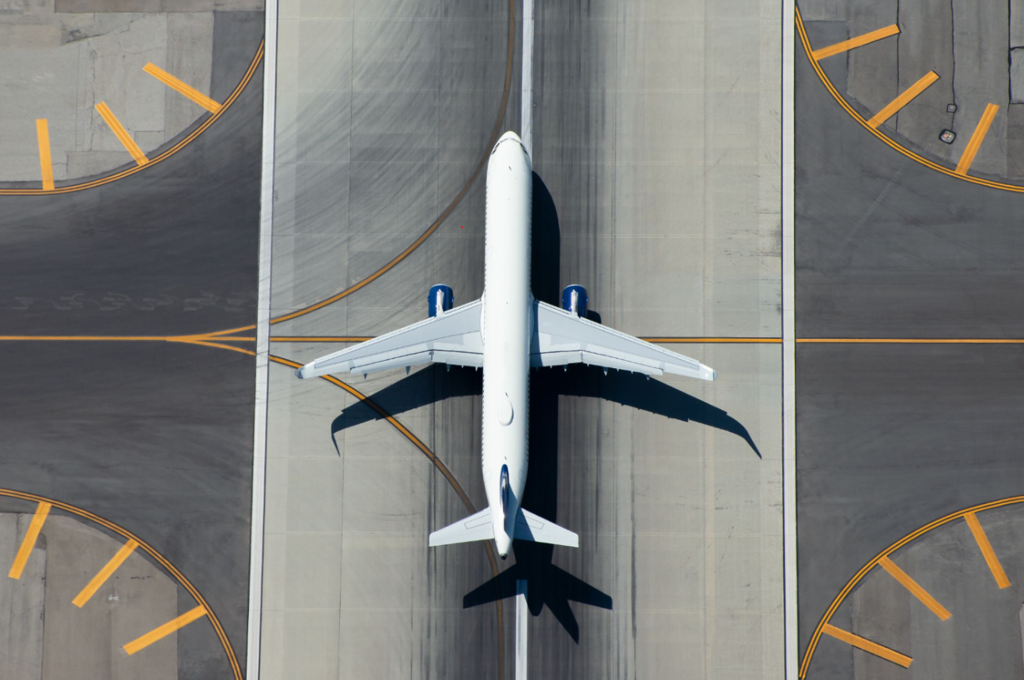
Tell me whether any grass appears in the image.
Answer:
No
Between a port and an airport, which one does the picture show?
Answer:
airport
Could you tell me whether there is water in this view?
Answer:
No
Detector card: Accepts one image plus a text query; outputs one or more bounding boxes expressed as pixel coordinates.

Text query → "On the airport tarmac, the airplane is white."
[295,131,717,562]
